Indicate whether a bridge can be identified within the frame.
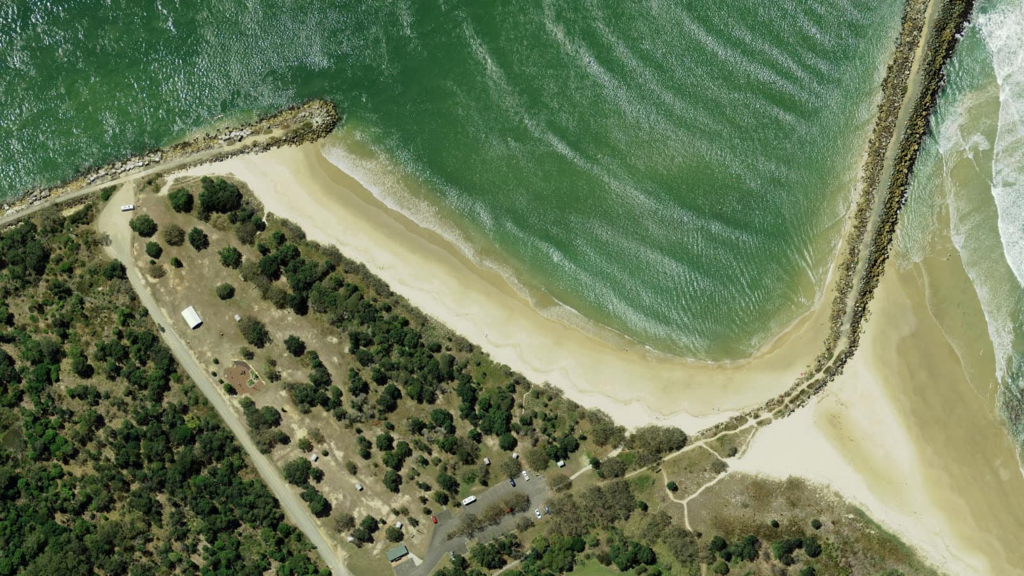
No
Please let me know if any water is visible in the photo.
Yes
